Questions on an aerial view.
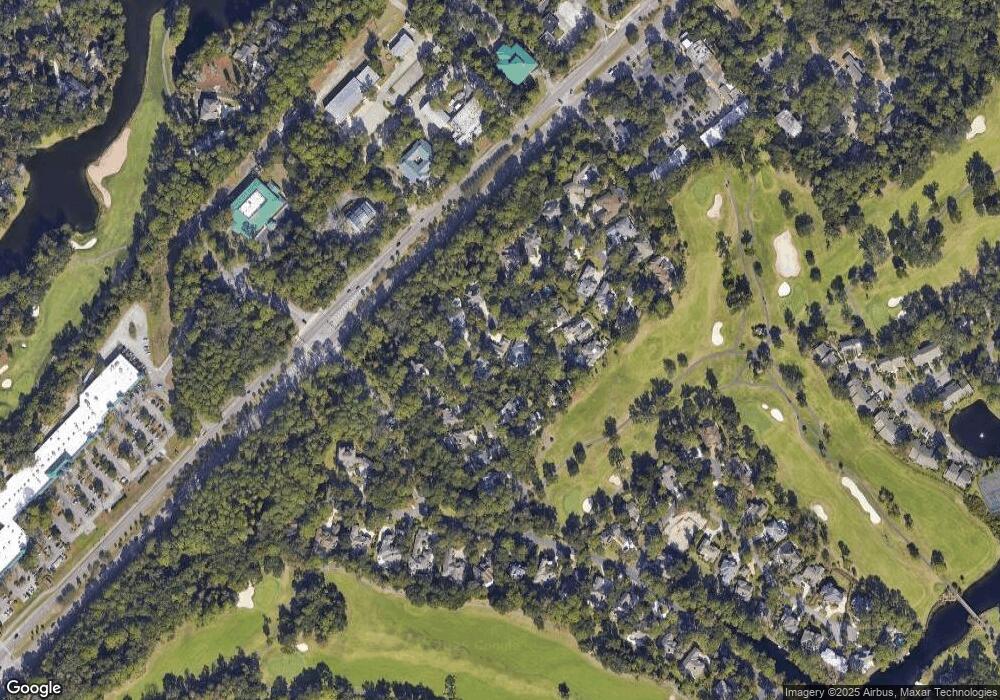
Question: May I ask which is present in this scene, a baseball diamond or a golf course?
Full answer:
Of the two, only a golf course appears.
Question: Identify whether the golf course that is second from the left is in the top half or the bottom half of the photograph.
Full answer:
The golf course that is second from the left sits in the bottom half of the picture.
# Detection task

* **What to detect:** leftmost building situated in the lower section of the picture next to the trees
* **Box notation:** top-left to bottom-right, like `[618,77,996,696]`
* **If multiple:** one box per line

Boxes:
[0,354,141,578]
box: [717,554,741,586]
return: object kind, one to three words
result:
house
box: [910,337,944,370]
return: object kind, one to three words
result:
building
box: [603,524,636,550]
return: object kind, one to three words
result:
house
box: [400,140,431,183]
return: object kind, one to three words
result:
building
